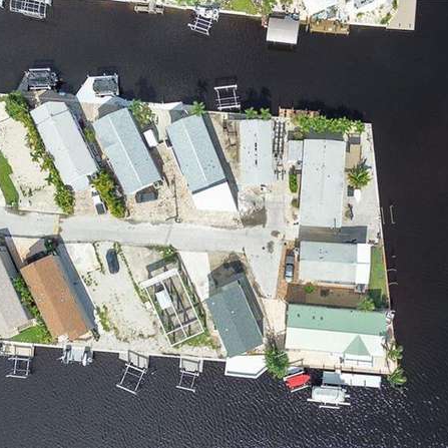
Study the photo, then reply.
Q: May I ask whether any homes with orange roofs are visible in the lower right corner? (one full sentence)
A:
No, there is no home with an orange roof in the lower right corner.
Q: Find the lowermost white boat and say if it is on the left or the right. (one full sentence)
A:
The lowermost white boat is on the right side of the image.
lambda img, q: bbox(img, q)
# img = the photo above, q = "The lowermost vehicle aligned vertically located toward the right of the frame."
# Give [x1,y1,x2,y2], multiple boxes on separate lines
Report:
[283,255,296,284]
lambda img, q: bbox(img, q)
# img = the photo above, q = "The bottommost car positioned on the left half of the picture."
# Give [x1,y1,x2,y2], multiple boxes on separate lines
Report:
[105,249,120,274]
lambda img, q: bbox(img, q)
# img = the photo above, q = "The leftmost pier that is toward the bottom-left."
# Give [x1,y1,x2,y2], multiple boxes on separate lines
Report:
[4,343,37,357]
